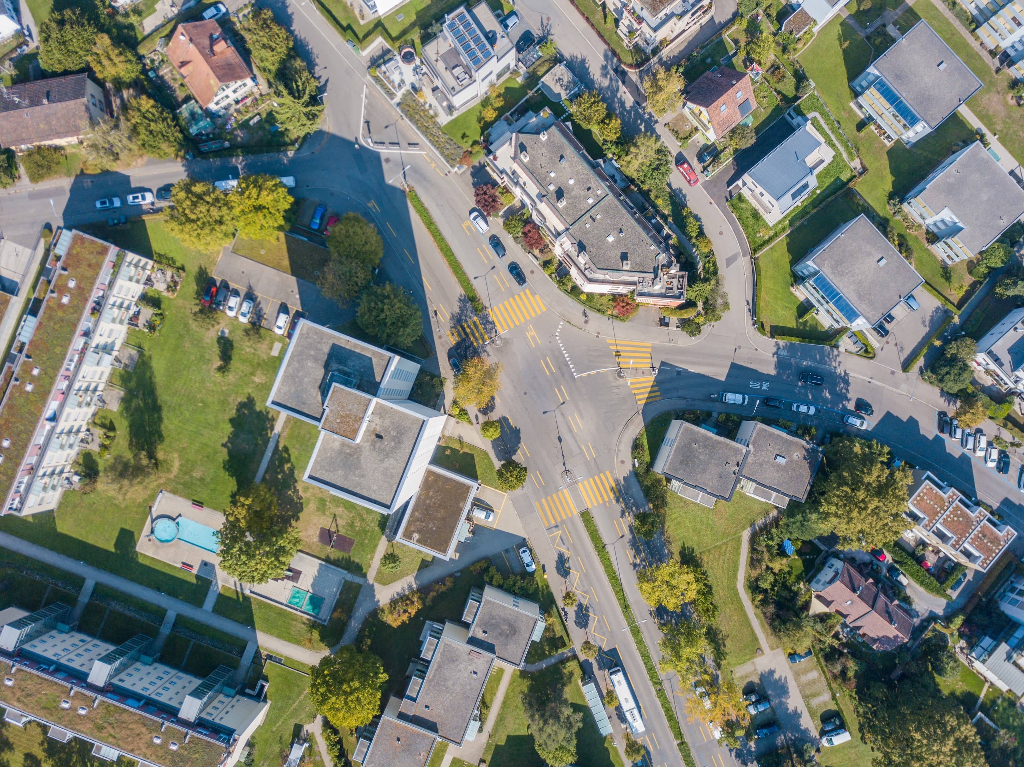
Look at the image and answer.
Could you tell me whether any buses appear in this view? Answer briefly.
Yes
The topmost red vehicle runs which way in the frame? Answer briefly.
diagonally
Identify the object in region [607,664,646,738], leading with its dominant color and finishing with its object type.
white bus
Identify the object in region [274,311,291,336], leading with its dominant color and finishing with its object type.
white car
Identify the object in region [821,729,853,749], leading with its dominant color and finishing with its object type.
white vehicle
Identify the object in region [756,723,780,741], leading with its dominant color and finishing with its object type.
blue car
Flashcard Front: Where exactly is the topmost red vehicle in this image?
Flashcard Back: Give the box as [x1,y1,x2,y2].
[674,160,698,188]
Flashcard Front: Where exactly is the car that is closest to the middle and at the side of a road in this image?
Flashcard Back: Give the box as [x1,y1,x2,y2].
[448,354,466,377]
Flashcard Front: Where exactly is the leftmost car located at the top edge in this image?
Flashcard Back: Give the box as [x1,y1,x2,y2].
[201,4,227,20]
